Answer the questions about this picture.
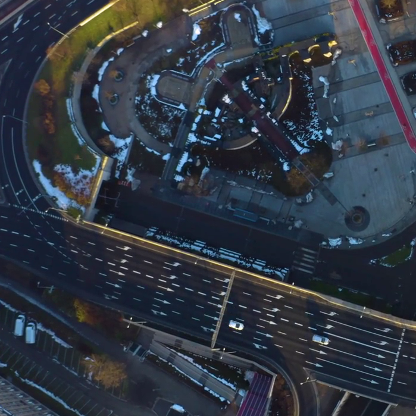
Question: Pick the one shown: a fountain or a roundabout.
fountain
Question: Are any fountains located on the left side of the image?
No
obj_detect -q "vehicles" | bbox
[20,323,36,344]
[9,315,25,336]
[310,335,329,345]
[228,321,244,329]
